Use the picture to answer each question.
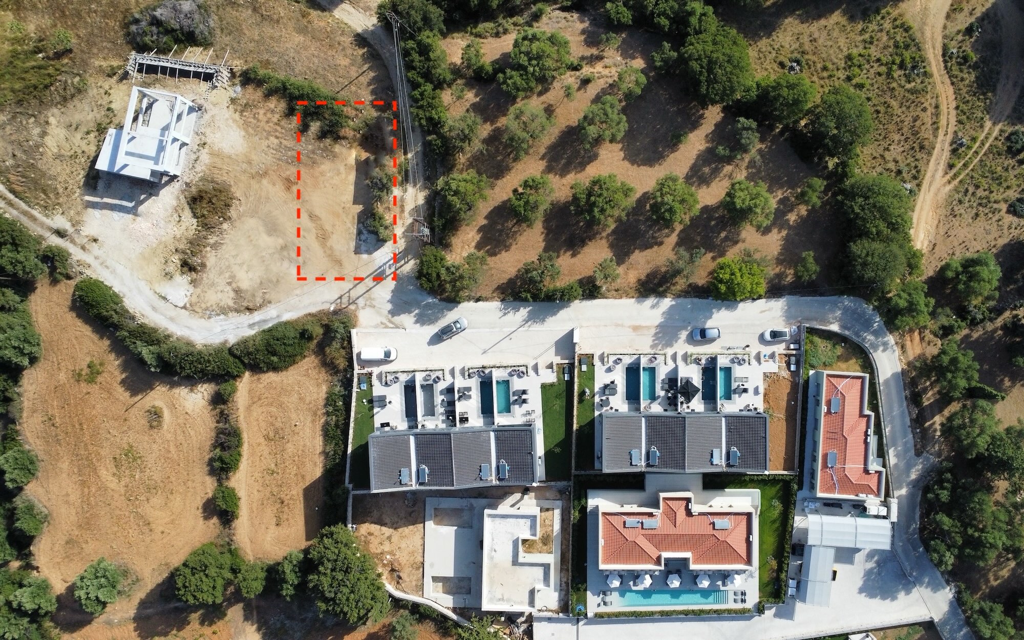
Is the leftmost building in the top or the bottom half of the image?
top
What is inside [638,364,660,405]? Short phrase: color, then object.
blue swimming pool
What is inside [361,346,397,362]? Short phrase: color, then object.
white vehicle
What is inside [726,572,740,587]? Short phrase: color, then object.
white umbrella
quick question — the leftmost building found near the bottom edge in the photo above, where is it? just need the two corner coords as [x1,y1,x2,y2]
[482,505,554,611]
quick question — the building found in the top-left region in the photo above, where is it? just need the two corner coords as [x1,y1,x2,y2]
[95,86,198,183]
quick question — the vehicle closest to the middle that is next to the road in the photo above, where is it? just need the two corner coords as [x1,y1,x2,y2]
[435,317,468,341]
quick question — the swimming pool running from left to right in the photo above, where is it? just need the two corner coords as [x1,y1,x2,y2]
[618,590,729,607]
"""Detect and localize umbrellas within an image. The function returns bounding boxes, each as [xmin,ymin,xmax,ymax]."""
[674,378,701,405]
[666,572,681,587]
[726,572,740,587]
[606,573,621,587]
[695,572,710,587]
[637,572,652,587]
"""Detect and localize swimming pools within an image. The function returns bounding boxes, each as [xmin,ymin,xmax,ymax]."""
[399,379,420,423]
[419,379,440,421]
[622,364,645,405]
[475,376,498,419]
[697,363,721,404]
[491,375,515,418]
[719,364,735,403]
[638,364,660,405]
[618,590,729,607]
